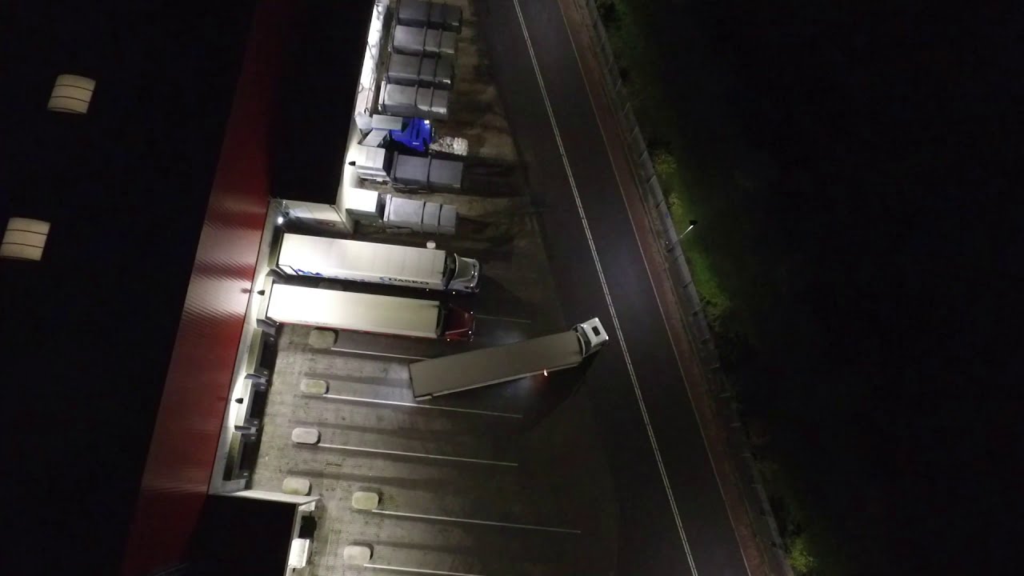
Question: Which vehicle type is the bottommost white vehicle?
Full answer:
The bottommost white vehicle is a truck.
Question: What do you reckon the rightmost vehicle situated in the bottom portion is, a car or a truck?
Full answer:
The rightmost vehicle situated in the bottom portion in the image is a truck.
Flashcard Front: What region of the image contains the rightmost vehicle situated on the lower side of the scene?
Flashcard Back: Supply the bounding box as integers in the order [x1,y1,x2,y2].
[407,313,616,397]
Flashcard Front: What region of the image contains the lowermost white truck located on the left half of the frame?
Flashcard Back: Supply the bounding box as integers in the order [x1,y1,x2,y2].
[268,284,478,344]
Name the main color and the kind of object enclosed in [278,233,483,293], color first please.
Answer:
white truck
